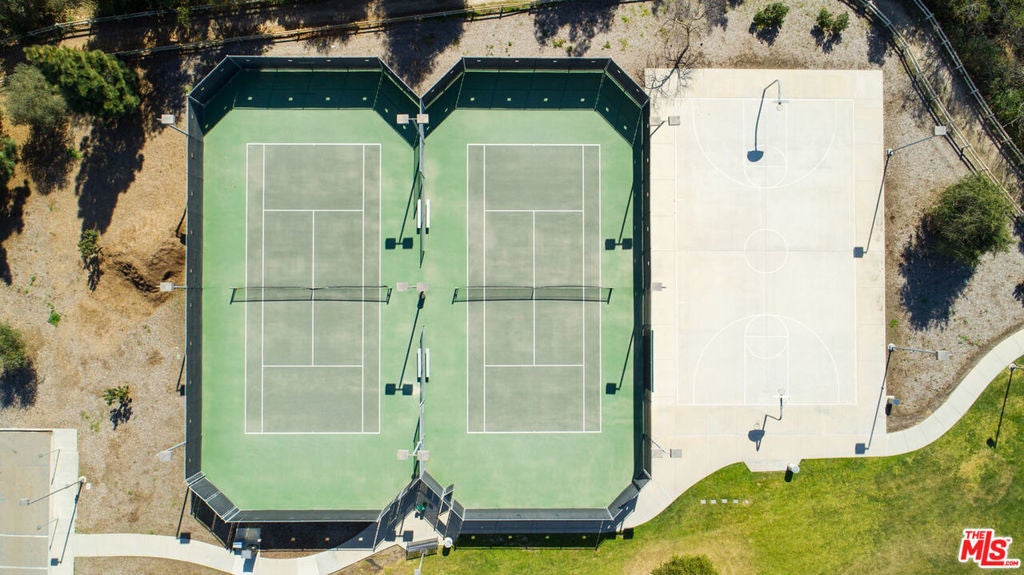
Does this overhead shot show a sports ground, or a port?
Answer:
sports ground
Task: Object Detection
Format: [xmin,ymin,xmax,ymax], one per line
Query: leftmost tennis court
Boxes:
[202,67,425,510]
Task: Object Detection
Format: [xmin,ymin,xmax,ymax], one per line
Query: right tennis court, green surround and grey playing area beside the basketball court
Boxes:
[425,69,644,509]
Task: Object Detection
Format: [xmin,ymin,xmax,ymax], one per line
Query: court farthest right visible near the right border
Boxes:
[615,69,1024,529]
